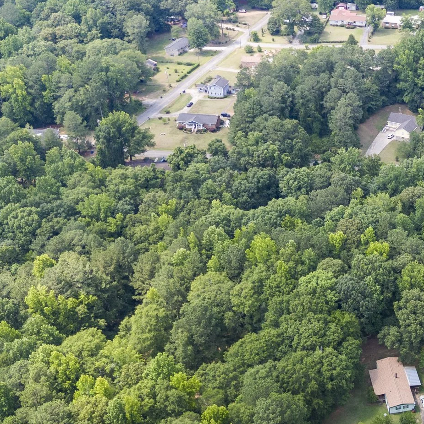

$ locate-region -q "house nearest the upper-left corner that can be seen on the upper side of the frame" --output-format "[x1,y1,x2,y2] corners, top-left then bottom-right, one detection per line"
[31,128,64,143]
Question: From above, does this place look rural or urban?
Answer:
rural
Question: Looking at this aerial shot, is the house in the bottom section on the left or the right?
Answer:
right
